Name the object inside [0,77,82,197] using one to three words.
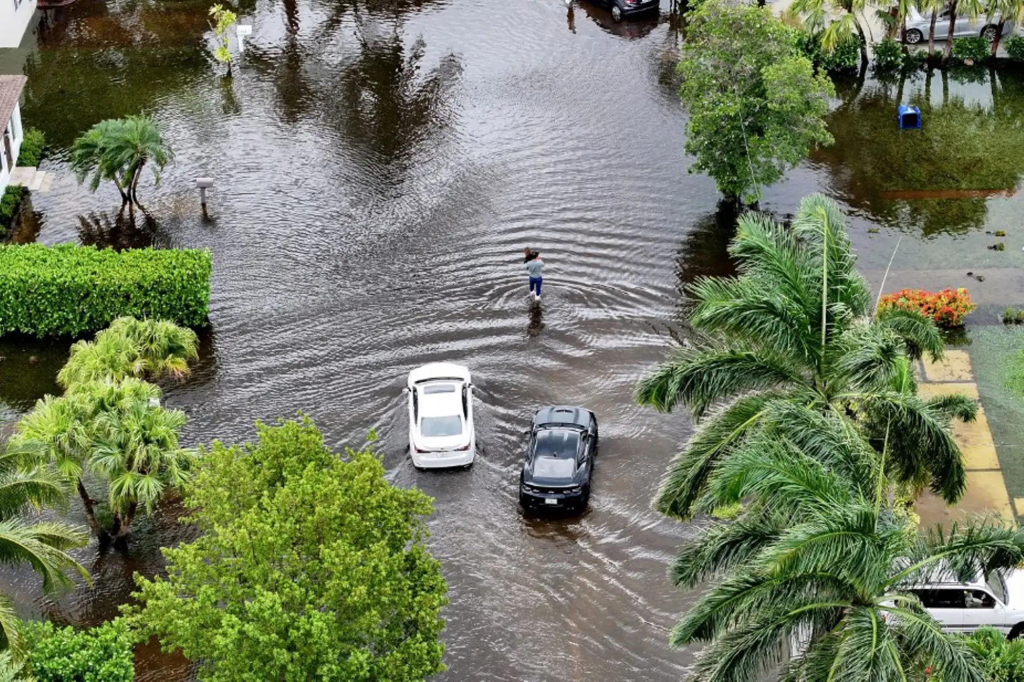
house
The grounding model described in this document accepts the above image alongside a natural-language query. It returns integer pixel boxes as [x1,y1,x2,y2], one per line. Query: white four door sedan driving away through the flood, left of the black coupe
[402,358,474,465]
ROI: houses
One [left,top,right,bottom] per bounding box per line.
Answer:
[0,77,82,197]
[0,0,37,47]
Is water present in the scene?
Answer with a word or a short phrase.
Yes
